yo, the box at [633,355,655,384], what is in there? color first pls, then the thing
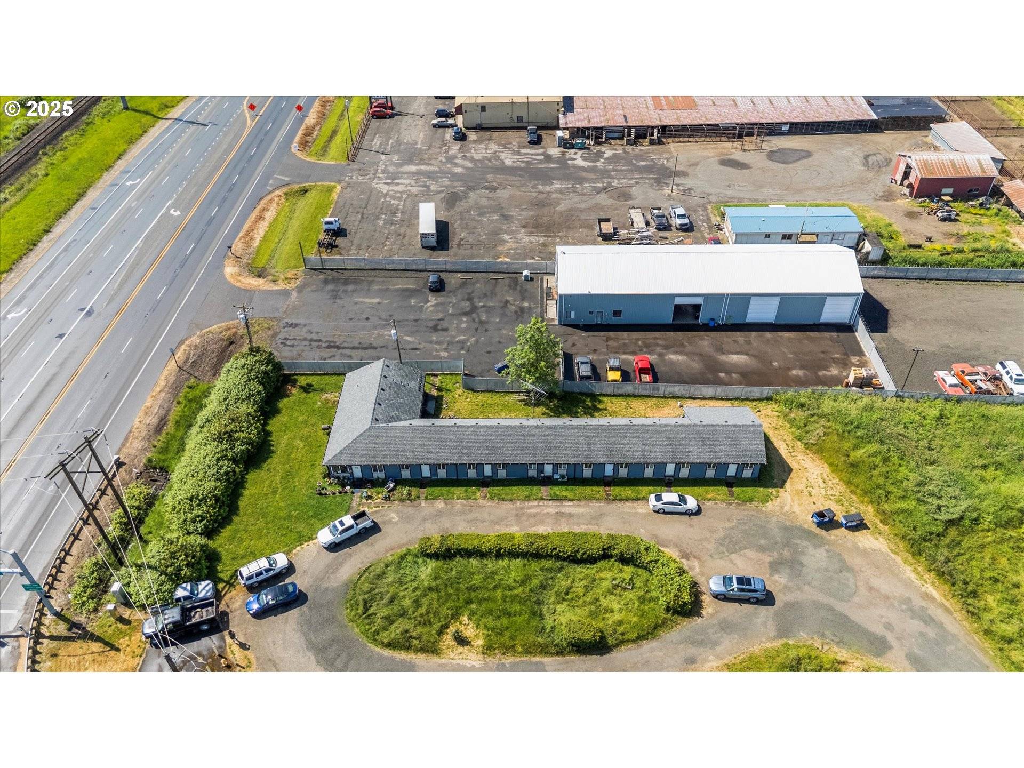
red truck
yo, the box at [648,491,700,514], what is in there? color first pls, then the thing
white car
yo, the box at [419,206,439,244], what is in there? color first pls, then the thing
white trailer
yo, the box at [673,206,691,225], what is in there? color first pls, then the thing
white vehicle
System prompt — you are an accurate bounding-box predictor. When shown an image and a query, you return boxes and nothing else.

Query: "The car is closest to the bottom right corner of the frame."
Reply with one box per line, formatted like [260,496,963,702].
[709,572,768,603]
